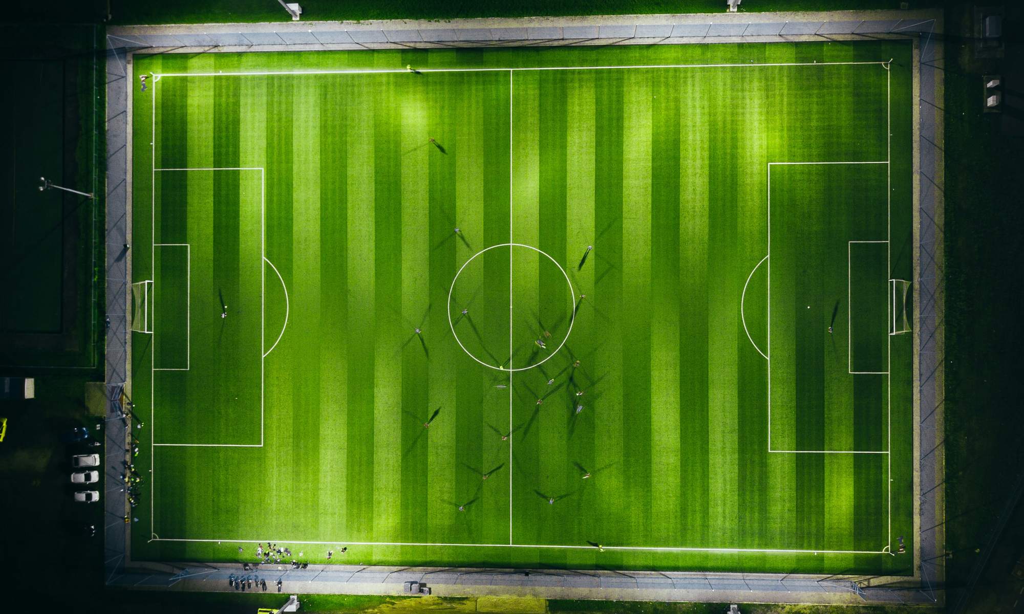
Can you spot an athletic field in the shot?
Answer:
Yes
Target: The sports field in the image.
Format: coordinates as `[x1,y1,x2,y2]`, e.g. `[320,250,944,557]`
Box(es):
[131,39,913,577]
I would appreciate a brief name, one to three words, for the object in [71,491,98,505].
car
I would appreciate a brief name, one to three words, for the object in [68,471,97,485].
car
